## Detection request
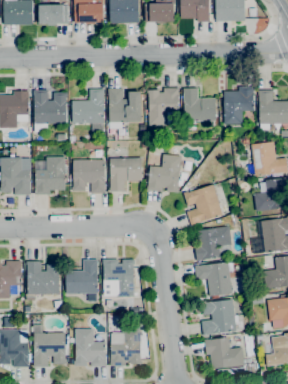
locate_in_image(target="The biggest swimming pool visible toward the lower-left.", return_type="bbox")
[45,317,66,330]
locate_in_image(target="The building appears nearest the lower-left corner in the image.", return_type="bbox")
[0,329,29,366]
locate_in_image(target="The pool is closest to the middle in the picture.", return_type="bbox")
[180,146,202,160]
